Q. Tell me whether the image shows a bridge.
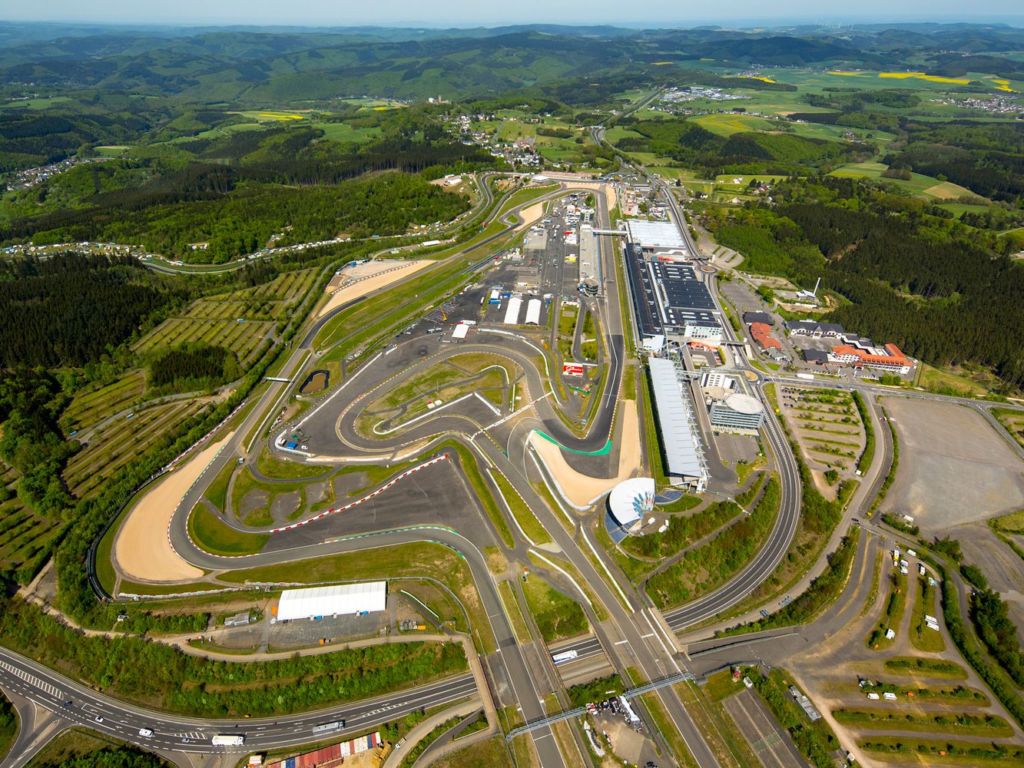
Yes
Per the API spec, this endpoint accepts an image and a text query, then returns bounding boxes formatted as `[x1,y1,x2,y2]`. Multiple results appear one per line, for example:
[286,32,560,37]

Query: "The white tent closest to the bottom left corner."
[277,581,387,625]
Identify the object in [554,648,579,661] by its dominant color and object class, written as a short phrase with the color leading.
white vehicle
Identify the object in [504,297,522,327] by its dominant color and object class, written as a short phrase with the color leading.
white tent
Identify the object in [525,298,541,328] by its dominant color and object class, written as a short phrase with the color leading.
white tent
